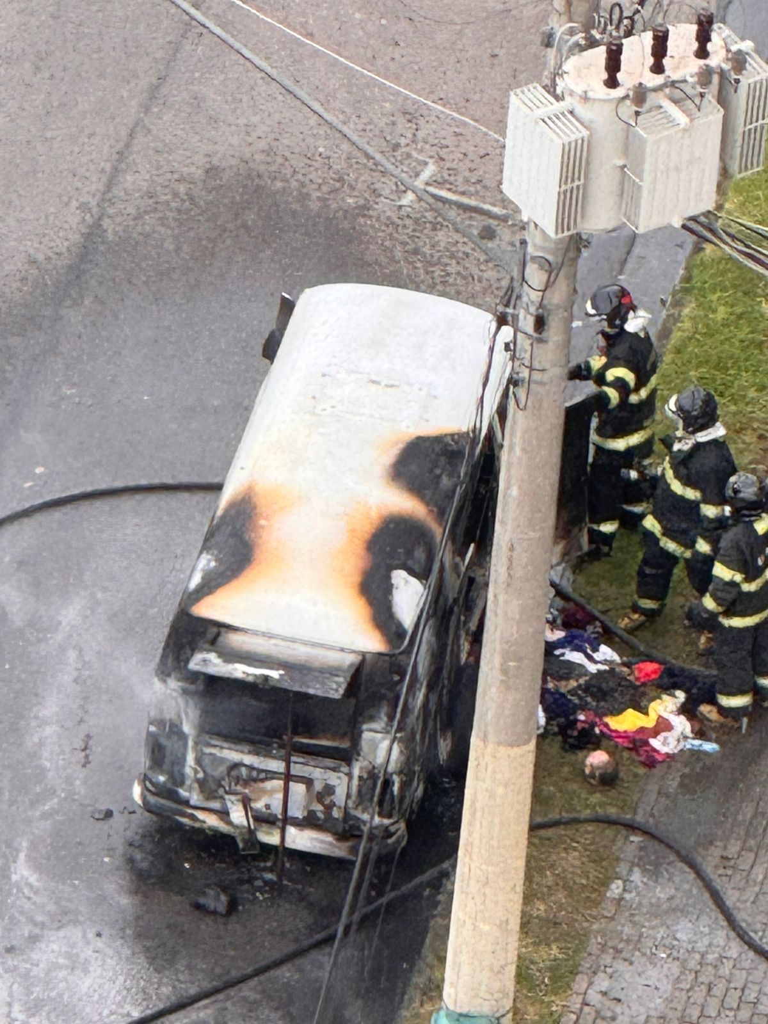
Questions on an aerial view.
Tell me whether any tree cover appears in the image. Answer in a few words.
No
